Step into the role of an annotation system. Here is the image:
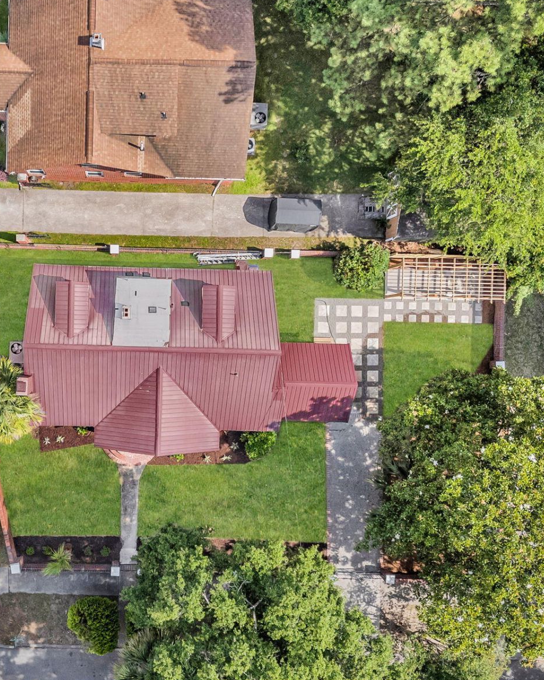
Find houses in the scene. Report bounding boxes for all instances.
[15,263,358,466]
[0,0,257,198]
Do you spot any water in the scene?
No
